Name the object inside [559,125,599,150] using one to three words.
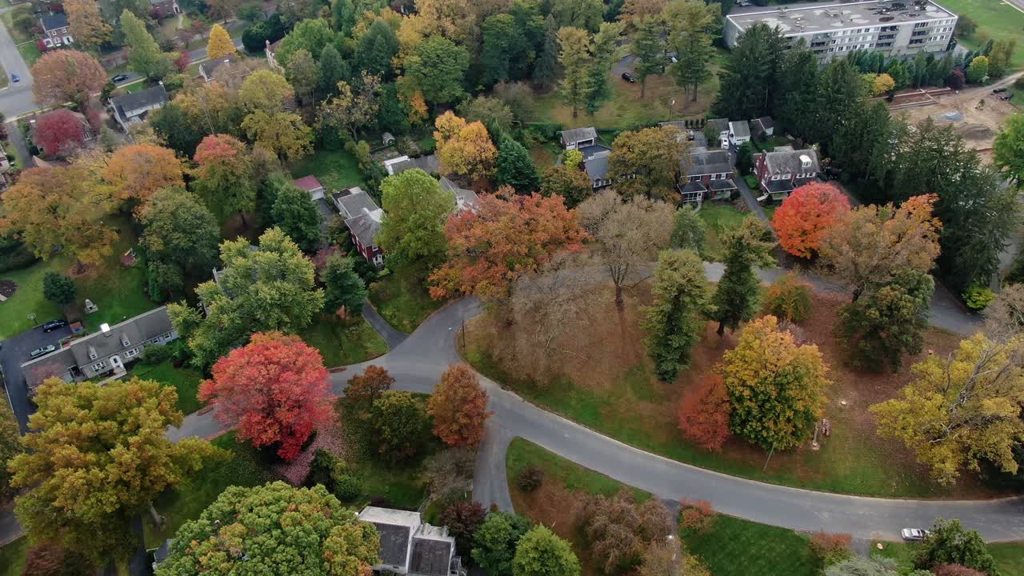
building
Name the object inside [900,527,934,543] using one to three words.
car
